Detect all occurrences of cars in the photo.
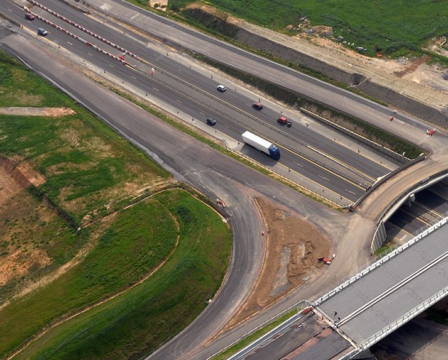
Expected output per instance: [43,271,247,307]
[277,116,287,124]
[38,27,47,34]
[24,12,33,19]
[206,116,216,124]
[216,84,227,92]
[253,102,264,109]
